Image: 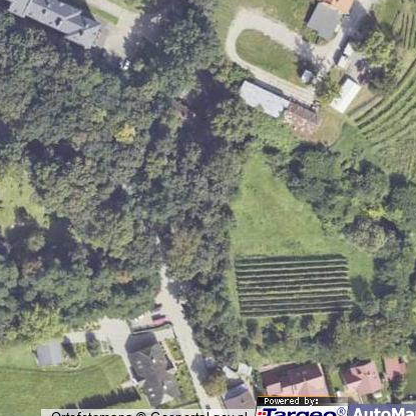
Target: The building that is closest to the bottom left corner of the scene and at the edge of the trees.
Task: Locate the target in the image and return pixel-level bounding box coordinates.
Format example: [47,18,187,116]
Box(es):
[36,343,65,368]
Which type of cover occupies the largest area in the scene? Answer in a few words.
trees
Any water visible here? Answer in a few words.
No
